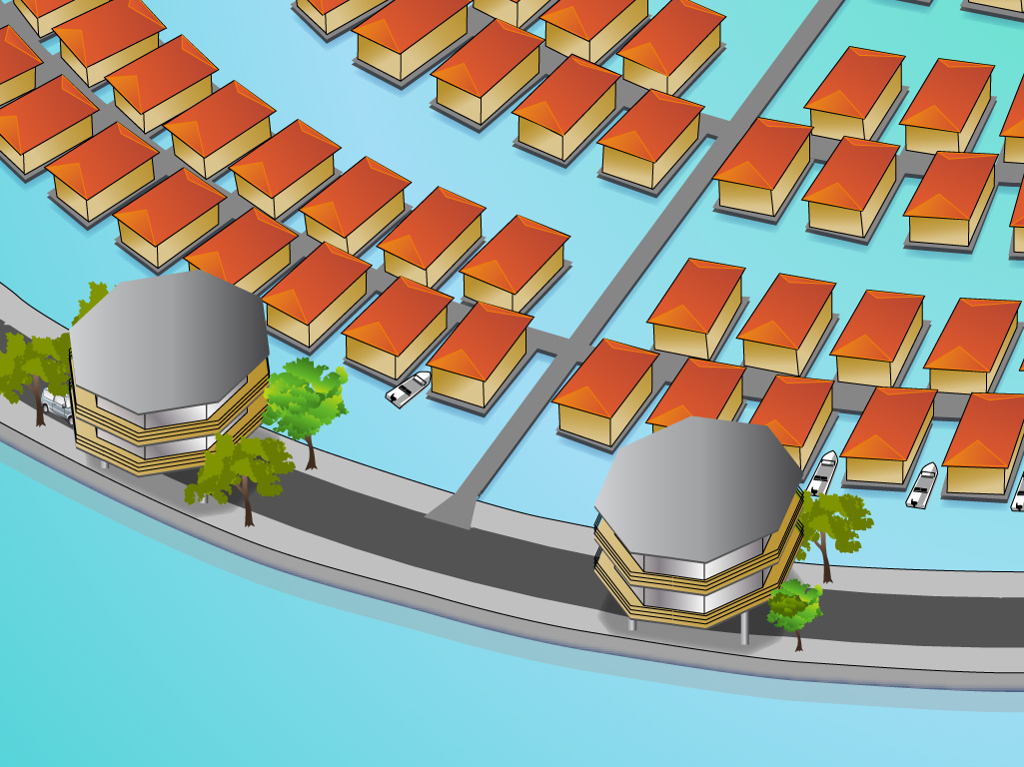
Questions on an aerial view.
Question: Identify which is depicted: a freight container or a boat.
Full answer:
There is a boat in the scene.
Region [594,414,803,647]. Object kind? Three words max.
building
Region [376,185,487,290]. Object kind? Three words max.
house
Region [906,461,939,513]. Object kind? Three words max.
boat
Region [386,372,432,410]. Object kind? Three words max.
boat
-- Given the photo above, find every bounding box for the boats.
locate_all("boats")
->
[386,372,432,410]
[1010,475,1024,517]
[806,450,840,501]
[906,461,939,513]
